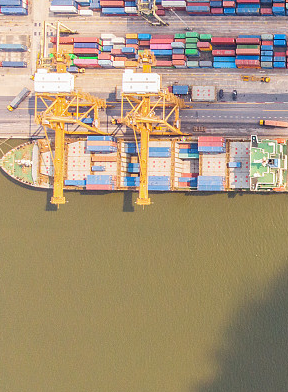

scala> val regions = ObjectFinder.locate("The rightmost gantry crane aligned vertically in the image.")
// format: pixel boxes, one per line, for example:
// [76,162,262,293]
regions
[123,51,195,208]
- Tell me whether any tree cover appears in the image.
No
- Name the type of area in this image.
port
